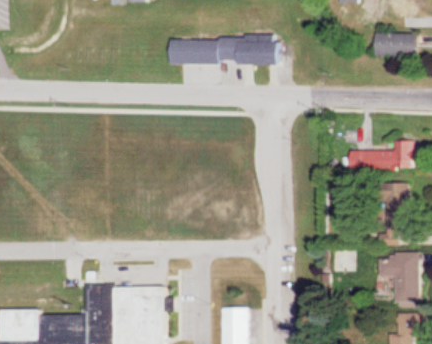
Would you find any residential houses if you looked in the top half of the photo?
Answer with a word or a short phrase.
Yes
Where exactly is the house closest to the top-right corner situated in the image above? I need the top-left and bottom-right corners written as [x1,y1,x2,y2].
[374,33,422,58]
